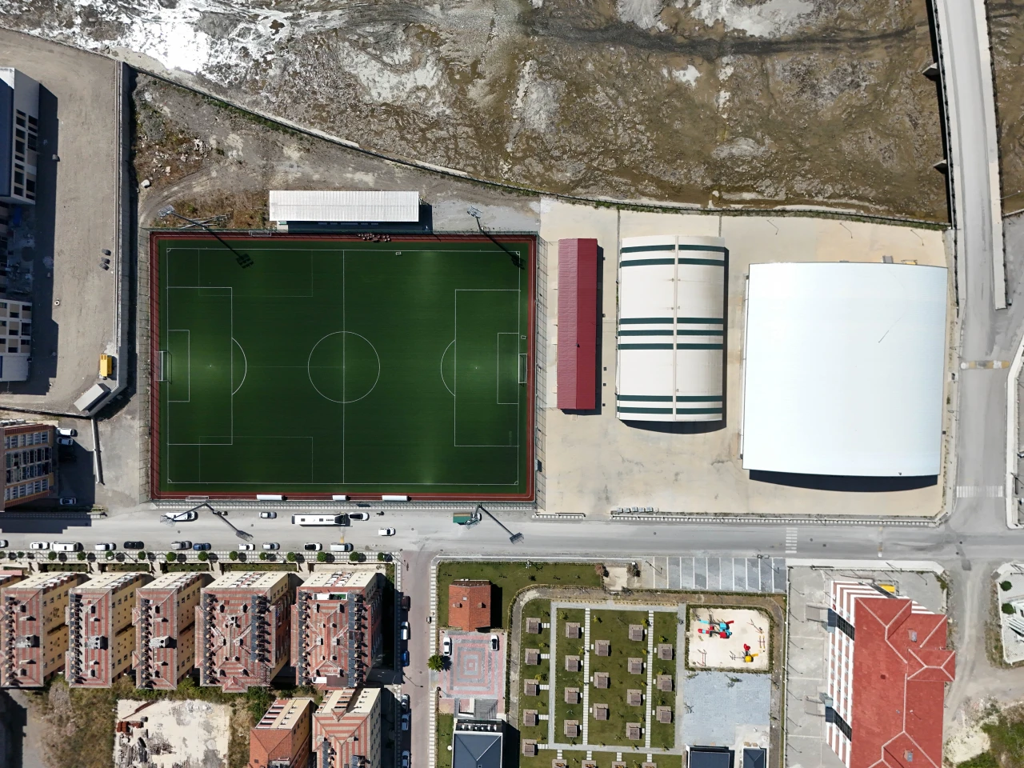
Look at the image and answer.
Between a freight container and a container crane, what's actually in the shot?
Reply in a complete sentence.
This aerial view contains a freight container.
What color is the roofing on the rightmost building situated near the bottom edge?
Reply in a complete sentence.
The roof of the rightmost building situated near the bottom edge is red.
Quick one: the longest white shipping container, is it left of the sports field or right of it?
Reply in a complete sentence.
The longest white shipping container can be seen on the left of the sports field.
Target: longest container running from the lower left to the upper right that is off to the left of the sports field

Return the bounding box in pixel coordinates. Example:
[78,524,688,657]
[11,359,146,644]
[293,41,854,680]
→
[75,384,110,411]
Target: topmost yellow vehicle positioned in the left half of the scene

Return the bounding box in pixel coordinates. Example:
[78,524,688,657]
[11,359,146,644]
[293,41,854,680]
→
[99,355,113,379]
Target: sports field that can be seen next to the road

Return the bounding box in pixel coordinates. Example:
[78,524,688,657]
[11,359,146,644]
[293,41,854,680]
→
[149,231,535,503]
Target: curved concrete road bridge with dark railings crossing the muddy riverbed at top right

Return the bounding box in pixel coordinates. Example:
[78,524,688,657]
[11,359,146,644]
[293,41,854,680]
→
[918,0,1007,231]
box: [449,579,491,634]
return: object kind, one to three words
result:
house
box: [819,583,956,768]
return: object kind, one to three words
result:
building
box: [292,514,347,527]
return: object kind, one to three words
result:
vehicle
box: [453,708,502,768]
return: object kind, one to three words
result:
house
